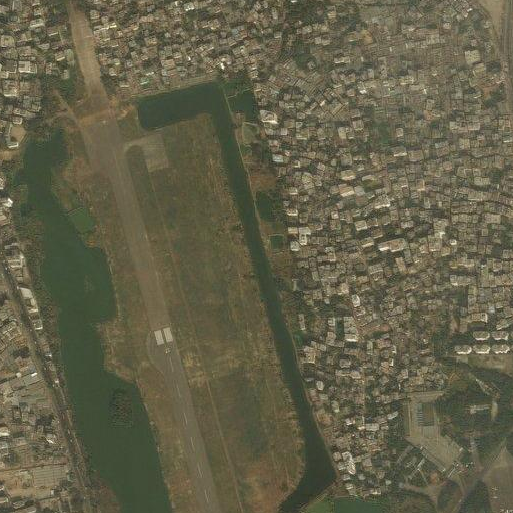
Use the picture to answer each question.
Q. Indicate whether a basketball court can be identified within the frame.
No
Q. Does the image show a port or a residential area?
residential area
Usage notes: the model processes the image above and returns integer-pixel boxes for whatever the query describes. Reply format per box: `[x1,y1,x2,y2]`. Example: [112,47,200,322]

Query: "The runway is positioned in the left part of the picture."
[83,119,218,513]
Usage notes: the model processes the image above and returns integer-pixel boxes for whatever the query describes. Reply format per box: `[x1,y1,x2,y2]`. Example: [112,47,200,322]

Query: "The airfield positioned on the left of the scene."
[52,0,305,513]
